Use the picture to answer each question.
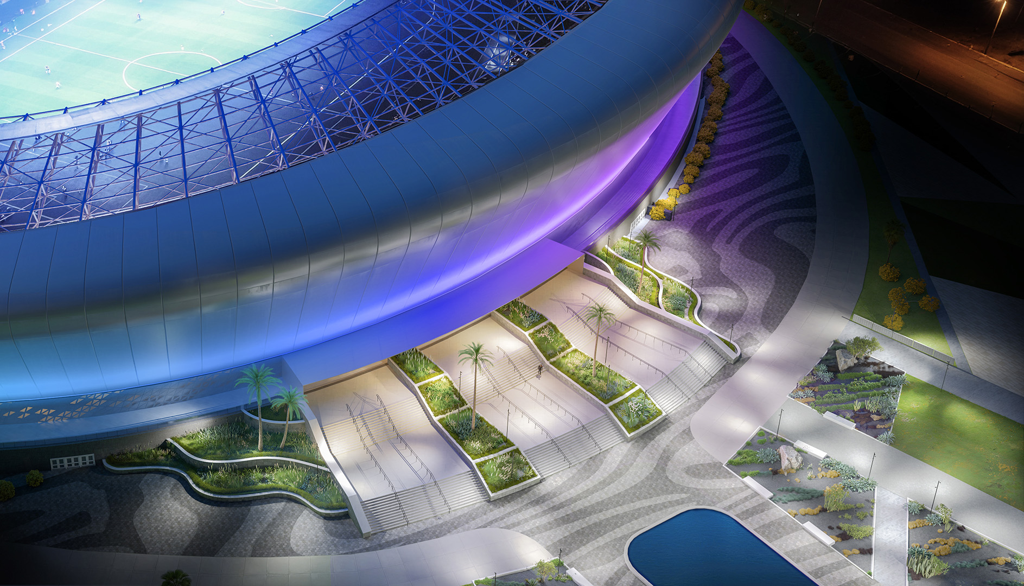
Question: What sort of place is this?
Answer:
sports ground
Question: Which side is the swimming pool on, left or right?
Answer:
right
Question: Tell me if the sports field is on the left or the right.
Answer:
left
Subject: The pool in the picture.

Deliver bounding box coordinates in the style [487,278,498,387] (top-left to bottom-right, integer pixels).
[628,508,817,586]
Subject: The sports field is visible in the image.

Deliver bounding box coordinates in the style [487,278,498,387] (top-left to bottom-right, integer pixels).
[0,0,365,137]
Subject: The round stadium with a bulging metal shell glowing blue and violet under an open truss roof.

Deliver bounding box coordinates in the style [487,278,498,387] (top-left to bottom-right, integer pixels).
[0,0,737,475]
